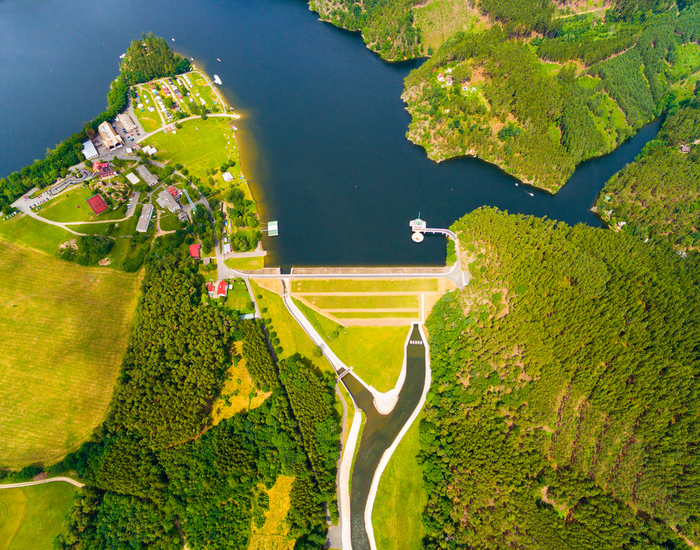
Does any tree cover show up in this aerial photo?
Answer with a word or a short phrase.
Yes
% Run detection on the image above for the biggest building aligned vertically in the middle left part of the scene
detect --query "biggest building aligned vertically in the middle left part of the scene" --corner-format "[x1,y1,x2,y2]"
[137,203,156,234]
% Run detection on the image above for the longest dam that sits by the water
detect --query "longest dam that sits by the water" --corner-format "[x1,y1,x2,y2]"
[231,265,456,327]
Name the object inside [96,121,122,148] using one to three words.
building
